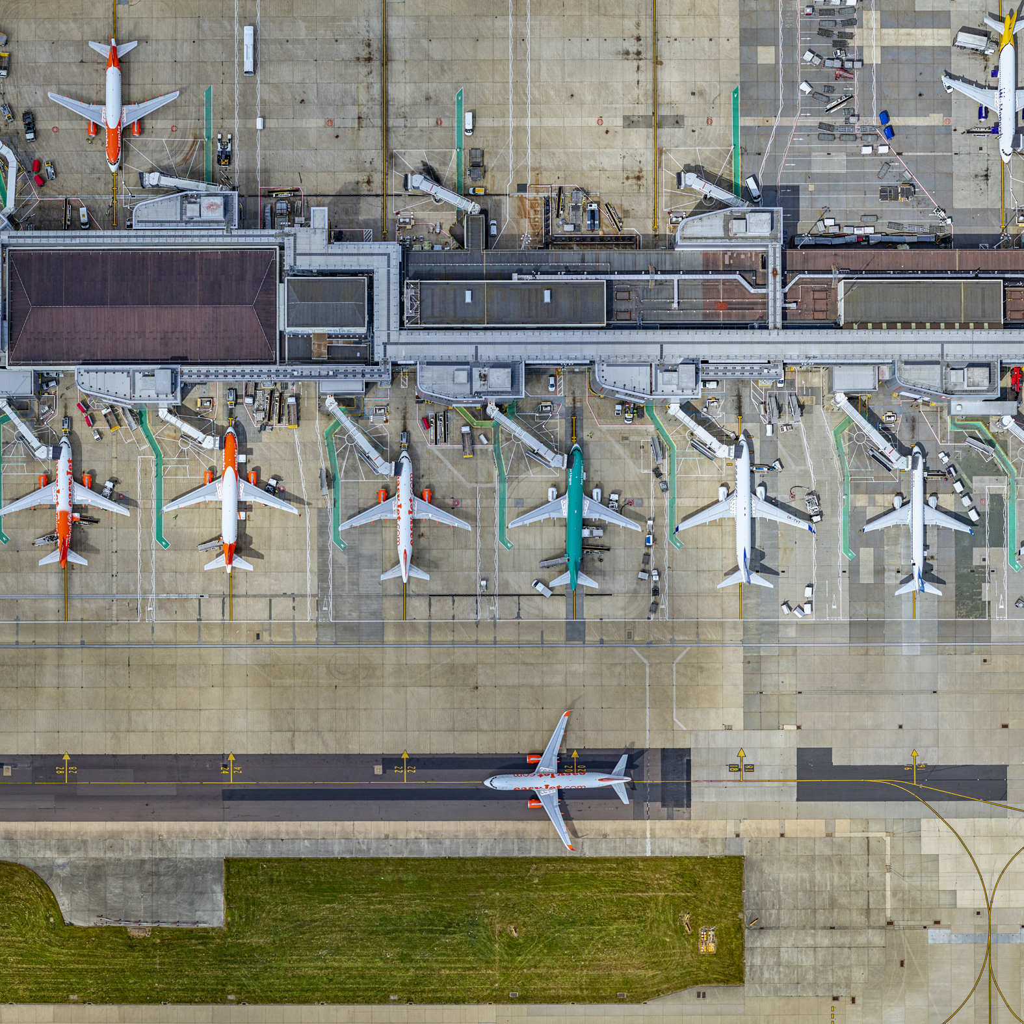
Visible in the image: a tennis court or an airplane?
airplane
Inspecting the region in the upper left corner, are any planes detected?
Yes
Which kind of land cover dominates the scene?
paved ground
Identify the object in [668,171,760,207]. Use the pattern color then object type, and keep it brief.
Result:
white jet bridge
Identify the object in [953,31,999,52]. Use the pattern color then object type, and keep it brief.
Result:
white truck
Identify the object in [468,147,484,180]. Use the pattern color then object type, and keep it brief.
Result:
gray work vehicle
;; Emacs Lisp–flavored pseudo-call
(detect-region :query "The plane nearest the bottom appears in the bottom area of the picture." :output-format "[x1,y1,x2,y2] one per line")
[484,714,632,856]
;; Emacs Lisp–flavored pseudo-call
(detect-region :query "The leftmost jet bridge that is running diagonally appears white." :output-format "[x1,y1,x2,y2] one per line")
[0,396,63,462]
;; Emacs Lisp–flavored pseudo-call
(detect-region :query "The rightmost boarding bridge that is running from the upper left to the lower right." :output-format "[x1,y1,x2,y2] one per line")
[997,414,1024,442]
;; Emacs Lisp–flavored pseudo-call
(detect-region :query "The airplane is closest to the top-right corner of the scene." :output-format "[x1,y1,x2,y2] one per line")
[941,12,1024,163]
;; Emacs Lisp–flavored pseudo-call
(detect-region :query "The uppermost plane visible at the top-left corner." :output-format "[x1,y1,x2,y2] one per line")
[45,35,180,172]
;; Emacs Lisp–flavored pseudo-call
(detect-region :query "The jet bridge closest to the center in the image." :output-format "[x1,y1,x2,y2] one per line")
[484,401,579,470]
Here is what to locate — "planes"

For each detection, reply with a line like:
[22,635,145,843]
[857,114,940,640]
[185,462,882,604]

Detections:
[337,451,472,583]
[941,12,1024,163]
[45,35,180,172]
[163,426,298,574]
[509,444,644,591]
[484,714,632,856]
[863,470,976,596]
[674,433,811,588]
[0,436,131,569]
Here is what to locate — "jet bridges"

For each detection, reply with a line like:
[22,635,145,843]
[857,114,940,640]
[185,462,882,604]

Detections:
[0,396,63,462]
[155,405,230,452]
[0,140,19,222]
[997,414,1024,442]
[666,402,746,460]
[831,392,925,471]
[668,171,760,207]
[397,173,481,214]
[132,170,232,192]
[323,394,408,477]
[484,401,579,470]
